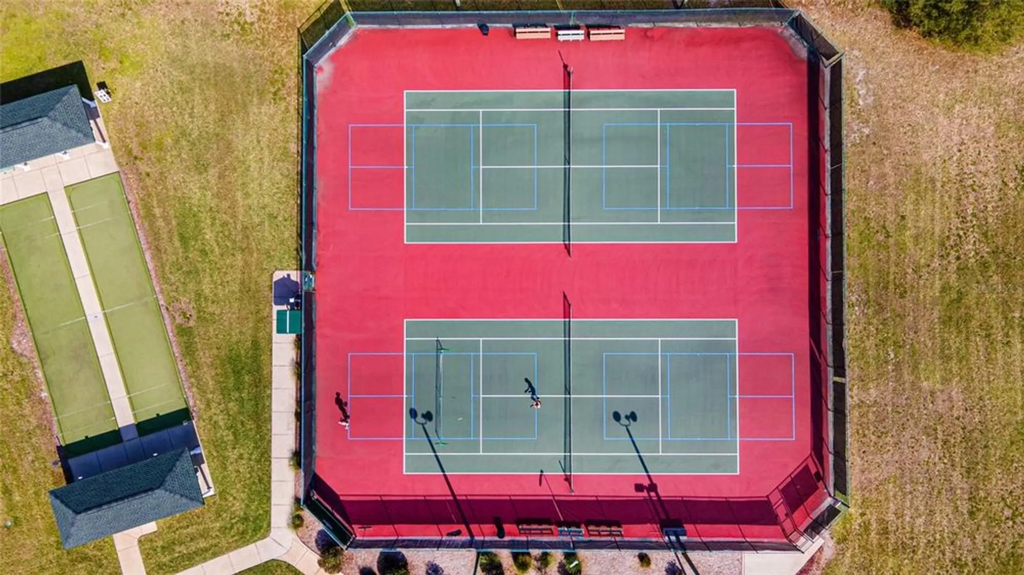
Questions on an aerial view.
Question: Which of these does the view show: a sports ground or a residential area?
sports ground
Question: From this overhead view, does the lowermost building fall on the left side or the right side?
left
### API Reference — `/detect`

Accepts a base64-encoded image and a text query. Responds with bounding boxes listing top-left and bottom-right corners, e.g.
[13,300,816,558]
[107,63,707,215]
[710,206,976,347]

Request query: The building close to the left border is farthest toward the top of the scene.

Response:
[0,85,107,172]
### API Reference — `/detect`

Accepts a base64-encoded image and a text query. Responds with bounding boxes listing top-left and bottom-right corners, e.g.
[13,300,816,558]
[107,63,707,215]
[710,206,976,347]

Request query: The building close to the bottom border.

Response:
[48,447,213,548]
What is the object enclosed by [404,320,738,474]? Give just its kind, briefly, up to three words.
tennis court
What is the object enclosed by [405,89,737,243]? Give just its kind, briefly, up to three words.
tennis court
